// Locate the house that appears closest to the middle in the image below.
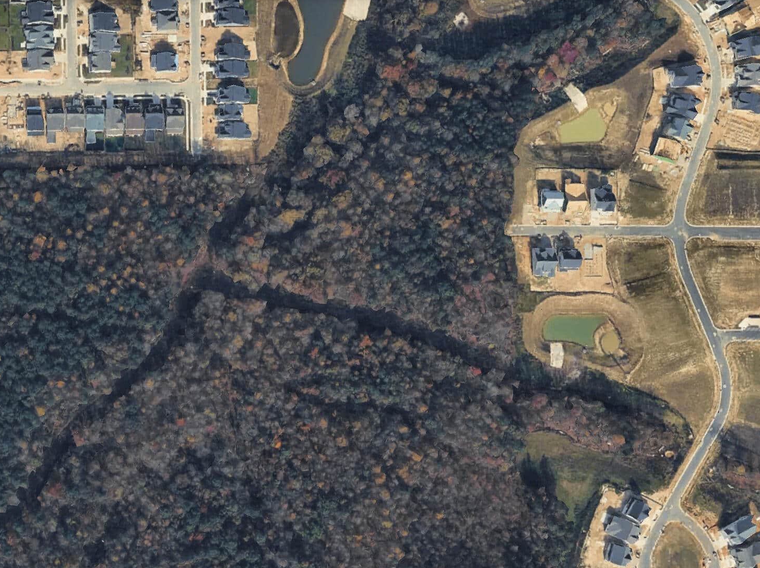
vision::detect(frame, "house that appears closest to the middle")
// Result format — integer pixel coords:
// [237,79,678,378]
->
[531,247,558,277]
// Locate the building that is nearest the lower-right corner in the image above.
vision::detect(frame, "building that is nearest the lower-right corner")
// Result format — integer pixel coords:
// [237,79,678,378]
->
[726,541,760,568]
